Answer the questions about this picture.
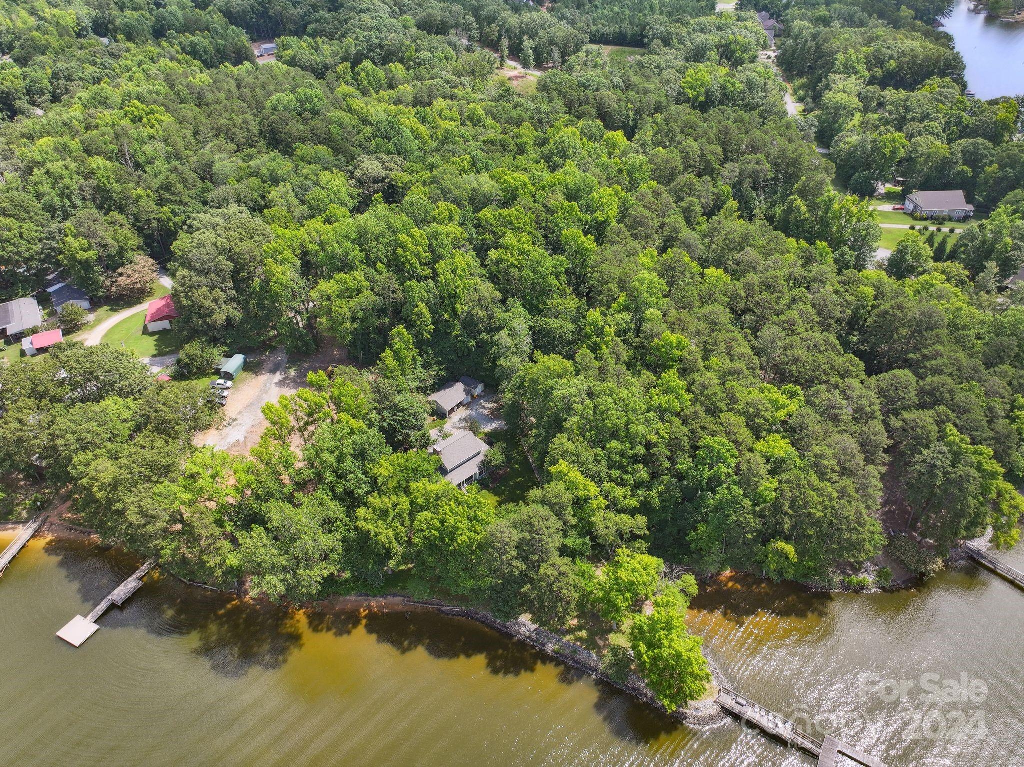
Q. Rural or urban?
rural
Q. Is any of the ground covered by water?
Yes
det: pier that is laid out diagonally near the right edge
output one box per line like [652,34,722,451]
[961,547,1024,588]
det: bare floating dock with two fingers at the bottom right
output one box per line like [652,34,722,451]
[818,736,888,767]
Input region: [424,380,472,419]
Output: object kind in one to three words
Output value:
building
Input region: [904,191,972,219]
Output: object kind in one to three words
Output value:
house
